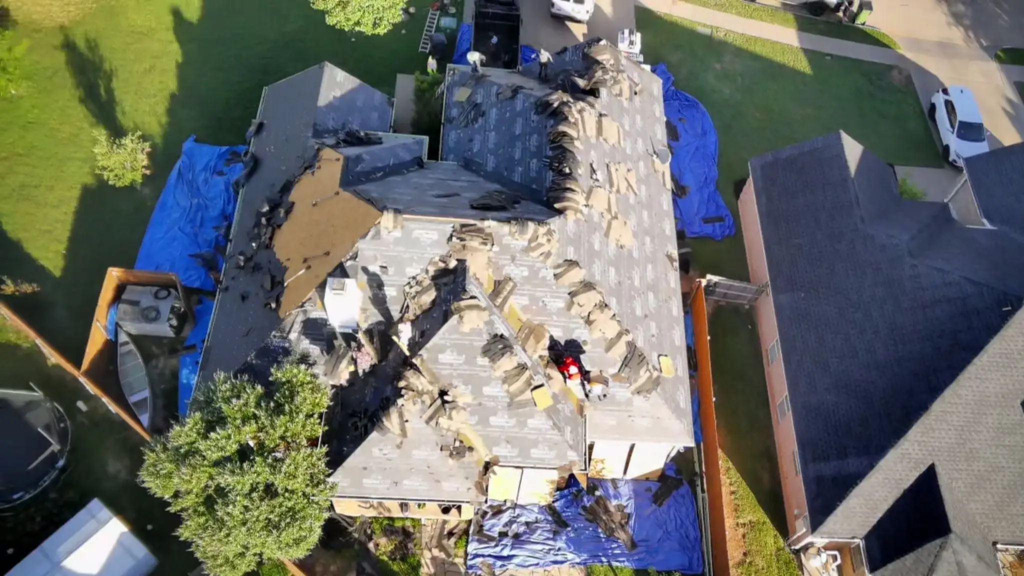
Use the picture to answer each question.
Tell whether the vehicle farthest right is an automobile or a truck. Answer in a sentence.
Specifically, the vehicle farthest right is an automobile.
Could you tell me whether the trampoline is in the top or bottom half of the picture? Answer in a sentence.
The bottom half of the photo is where the trampoline is.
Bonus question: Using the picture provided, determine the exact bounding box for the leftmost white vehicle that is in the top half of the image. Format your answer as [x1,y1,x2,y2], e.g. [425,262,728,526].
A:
[550,0,594,24]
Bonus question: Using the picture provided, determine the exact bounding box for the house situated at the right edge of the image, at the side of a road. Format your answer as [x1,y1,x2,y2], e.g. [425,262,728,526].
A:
[741,127,1024,576]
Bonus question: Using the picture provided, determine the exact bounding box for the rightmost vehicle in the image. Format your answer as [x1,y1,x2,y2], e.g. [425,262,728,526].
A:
[924,77,1002,173]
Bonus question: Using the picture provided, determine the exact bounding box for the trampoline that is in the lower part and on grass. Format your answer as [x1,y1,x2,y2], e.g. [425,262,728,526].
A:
[0,374,89,513]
